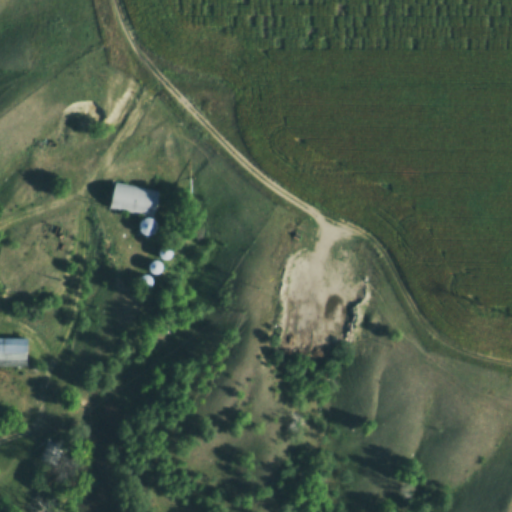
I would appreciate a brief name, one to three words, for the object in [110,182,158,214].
barn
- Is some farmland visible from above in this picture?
Yes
